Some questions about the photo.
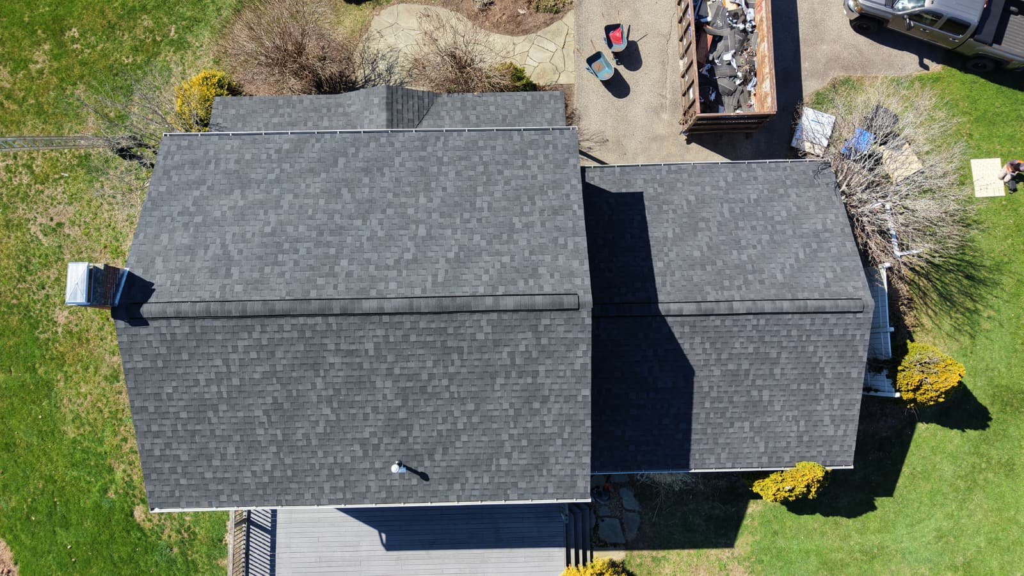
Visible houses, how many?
1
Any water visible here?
No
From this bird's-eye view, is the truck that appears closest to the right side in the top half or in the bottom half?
top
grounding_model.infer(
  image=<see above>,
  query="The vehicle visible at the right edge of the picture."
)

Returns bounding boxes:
[836,0,1024,77]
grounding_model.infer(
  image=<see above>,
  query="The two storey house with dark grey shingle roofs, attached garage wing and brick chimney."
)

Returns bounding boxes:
[64,83,874,517]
